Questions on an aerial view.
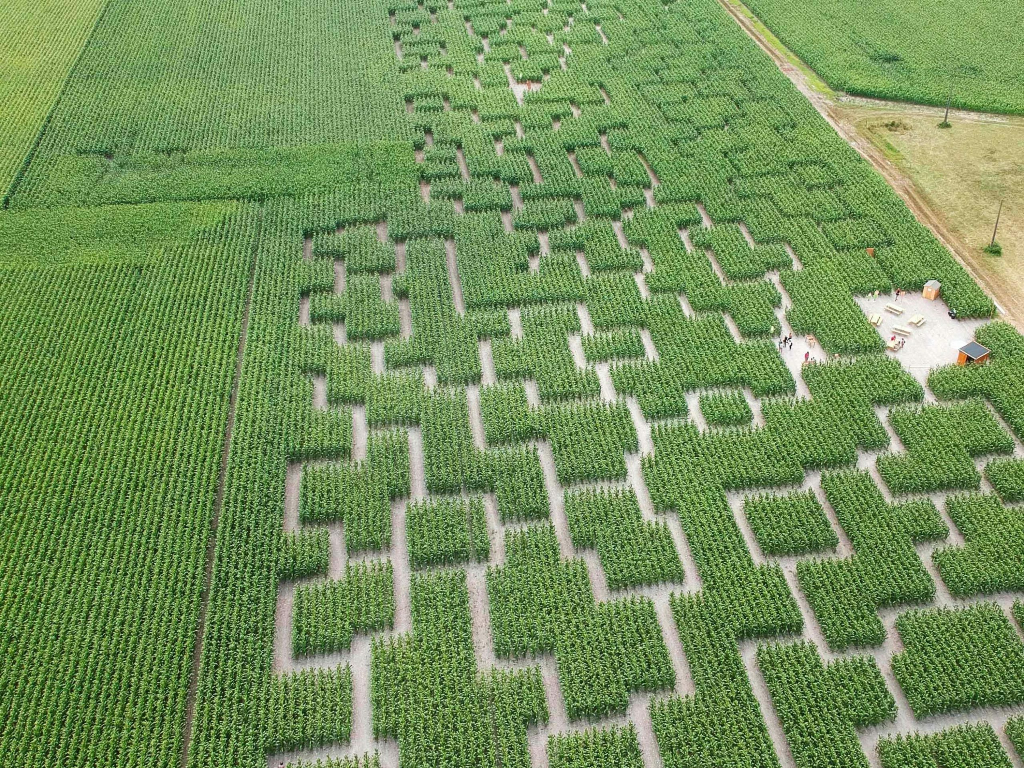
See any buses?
No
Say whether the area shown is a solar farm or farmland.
farmland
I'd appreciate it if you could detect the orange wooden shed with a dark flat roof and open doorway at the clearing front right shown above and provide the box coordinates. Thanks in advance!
[957,340,992,374]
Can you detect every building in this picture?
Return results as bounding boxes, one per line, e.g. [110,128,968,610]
[957,340,992,374]
[923,278,942,301]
